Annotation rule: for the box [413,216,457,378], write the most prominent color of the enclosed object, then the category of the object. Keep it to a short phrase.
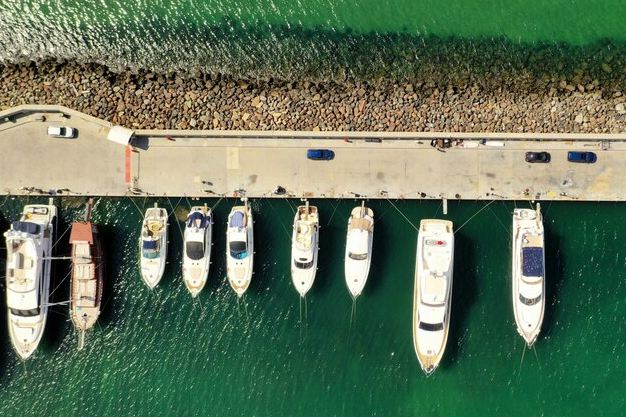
white boat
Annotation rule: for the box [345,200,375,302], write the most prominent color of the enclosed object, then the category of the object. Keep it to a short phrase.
white boat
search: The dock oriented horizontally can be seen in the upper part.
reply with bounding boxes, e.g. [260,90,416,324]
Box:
[0,114,626,202]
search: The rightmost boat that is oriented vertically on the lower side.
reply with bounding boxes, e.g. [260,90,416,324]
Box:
[510,203,550,350]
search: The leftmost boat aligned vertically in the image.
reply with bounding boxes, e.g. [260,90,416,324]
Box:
[3,197,57,362]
